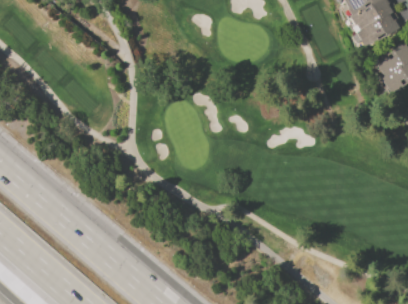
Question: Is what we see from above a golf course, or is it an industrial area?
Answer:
golf course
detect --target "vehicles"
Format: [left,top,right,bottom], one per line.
[0,176,10,184]
[148,274,158,282]
[74,228,84,236]
[72,290,83,301]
